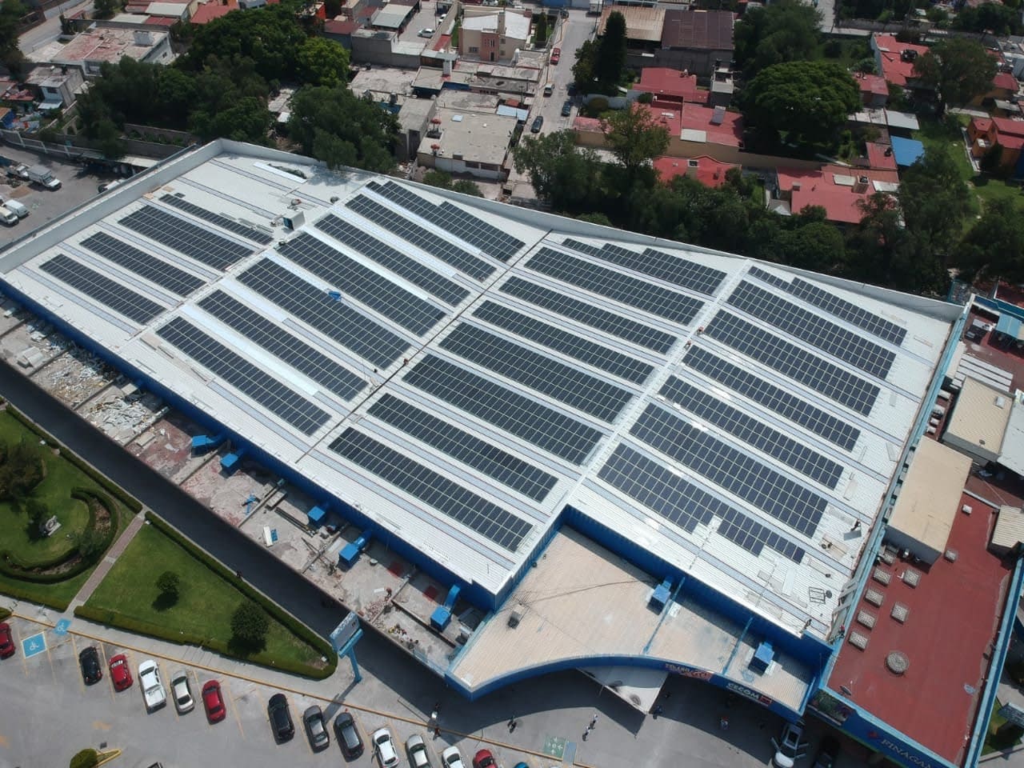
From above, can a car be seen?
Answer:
Yes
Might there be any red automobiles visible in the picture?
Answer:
Yes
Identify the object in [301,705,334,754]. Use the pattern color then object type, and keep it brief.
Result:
gray car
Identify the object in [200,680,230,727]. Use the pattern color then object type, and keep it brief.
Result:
red car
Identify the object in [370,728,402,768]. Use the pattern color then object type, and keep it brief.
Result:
white car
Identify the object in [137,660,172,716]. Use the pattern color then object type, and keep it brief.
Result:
white truck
